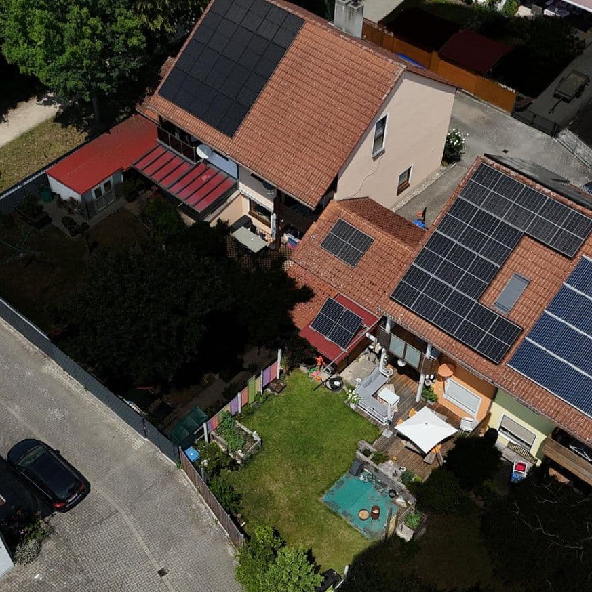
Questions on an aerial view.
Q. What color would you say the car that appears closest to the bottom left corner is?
black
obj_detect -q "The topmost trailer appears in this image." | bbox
[549,68,591,112]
